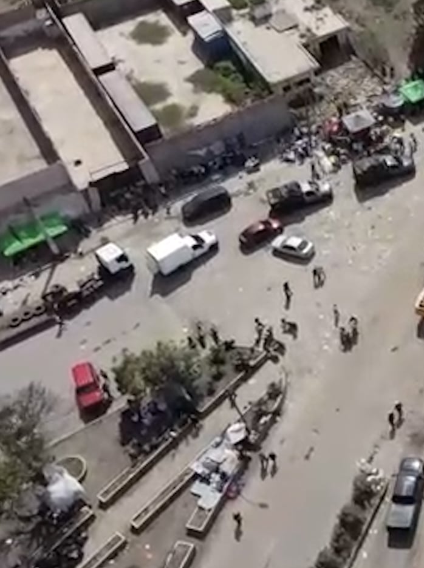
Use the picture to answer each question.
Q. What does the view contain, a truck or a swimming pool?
truck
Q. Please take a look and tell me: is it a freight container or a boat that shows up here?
freight container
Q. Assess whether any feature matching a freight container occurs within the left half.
Yes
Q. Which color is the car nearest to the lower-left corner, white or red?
red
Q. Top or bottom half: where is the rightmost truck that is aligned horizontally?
top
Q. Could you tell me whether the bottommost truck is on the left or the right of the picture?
right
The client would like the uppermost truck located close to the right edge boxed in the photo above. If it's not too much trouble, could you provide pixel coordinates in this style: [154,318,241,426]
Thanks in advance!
[348,148,419,189]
